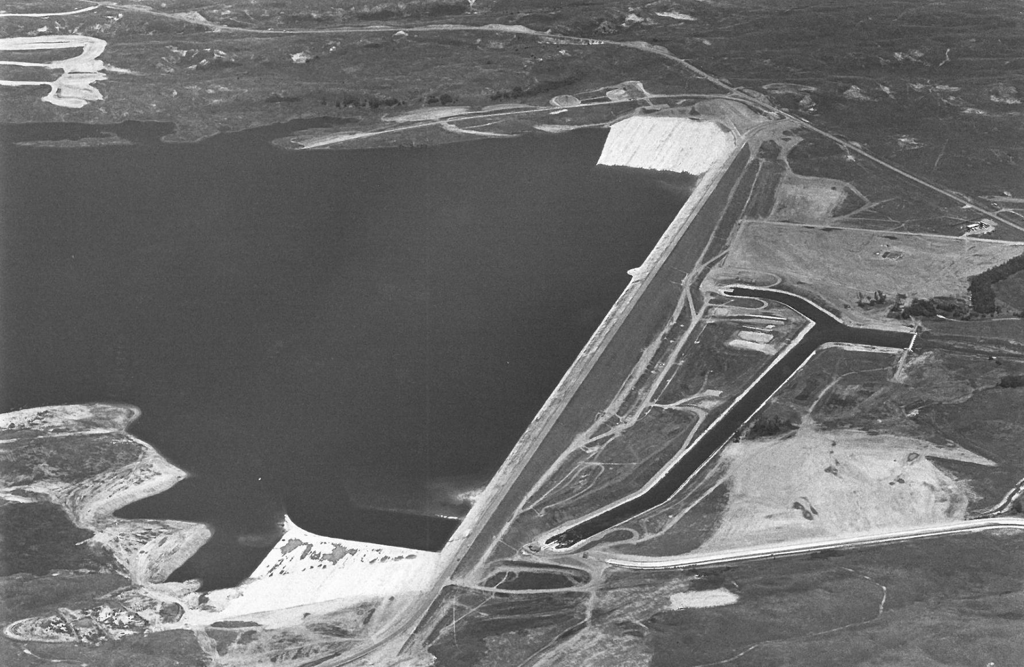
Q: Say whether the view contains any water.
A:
Yes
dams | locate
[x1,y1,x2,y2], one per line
[390,142,751,667]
